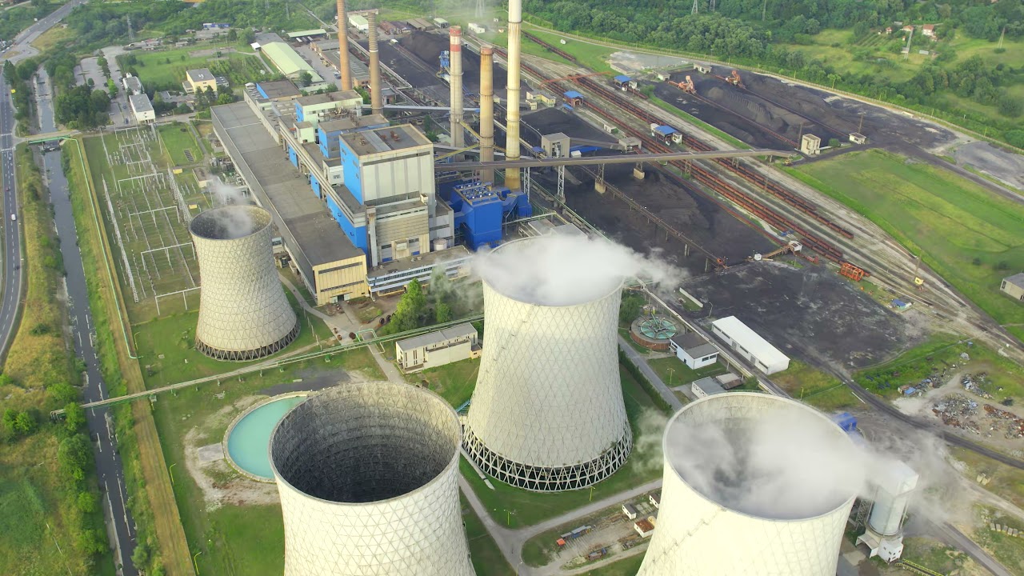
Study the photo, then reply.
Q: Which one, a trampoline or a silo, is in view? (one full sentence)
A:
The one in the frame is a silo.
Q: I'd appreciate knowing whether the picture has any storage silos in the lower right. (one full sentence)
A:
Yes, looking in the lower right, one can make out a storage silo.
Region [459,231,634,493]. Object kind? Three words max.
cooling tower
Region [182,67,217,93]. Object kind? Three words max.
building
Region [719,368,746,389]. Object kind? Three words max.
shed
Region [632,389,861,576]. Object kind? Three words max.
cooling tower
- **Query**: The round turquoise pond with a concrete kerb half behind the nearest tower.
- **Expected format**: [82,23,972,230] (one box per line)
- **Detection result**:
[224,389,320,475]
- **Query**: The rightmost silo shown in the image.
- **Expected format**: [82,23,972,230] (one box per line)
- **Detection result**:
[847,445,932,559]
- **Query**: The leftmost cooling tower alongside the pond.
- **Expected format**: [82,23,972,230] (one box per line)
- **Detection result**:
[188,201,304,364]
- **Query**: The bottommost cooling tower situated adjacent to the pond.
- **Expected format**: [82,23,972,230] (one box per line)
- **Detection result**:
[266,377,478,576]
